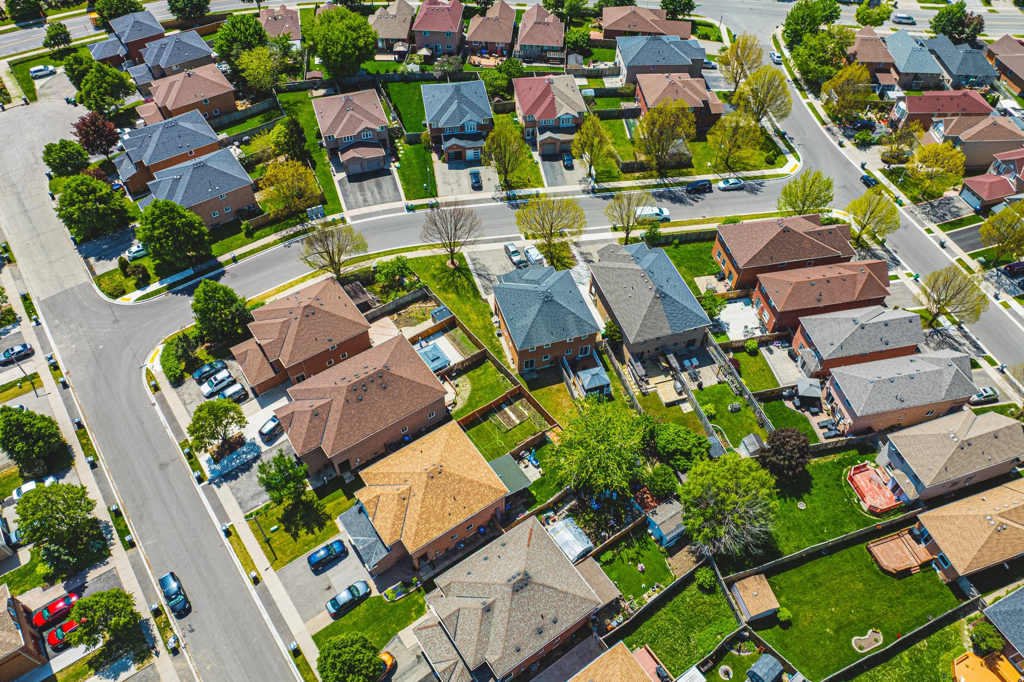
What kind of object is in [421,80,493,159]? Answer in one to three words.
house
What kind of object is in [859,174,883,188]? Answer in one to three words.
car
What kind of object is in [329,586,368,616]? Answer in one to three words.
car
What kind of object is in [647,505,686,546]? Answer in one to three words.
shed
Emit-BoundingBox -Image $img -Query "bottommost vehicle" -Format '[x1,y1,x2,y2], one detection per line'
[367,655,400,682]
